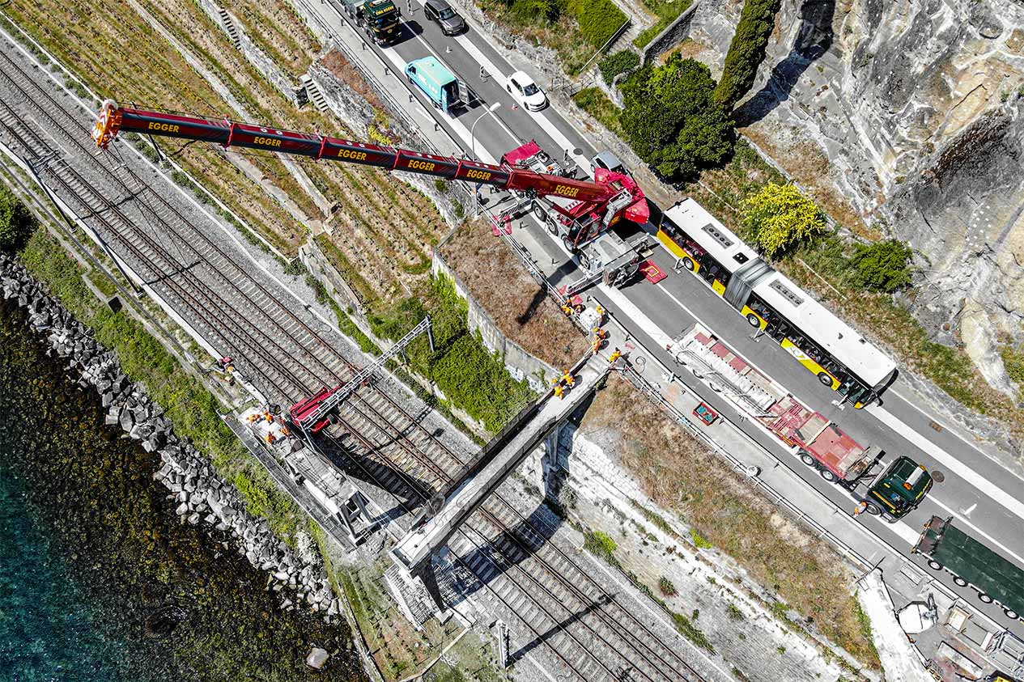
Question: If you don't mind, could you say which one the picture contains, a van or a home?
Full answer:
Visible in the photo is a van.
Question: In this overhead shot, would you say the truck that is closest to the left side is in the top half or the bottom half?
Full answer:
The truck that is closest to the left side is in the top half of the image.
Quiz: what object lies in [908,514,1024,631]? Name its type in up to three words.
trailer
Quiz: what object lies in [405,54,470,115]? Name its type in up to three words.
van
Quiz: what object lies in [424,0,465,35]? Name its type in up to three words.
car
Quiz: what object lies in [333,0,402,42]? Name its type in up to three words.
truck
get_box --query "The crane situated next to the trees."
[99,104,652,518]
